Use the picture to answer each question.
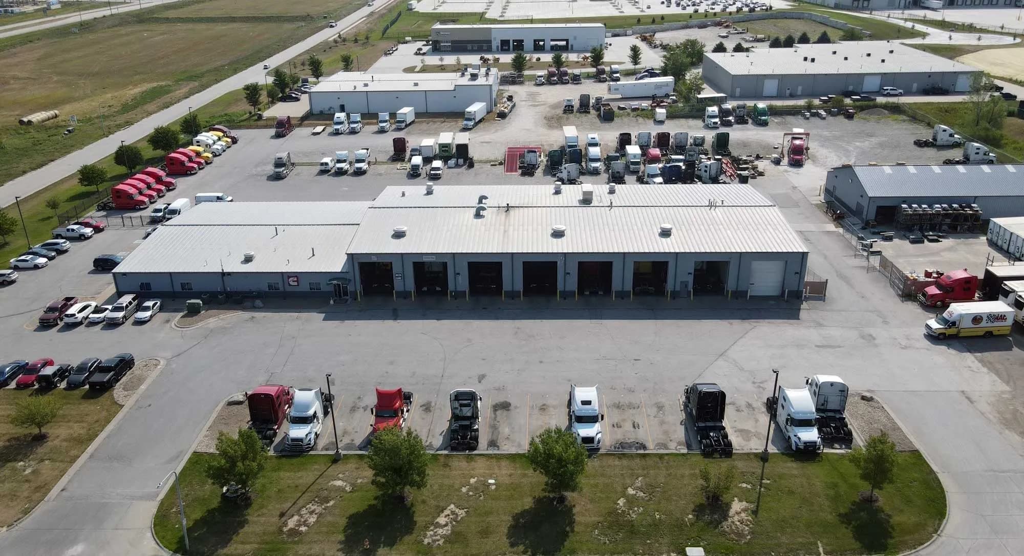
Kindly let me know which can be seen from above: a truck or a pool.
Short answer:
truck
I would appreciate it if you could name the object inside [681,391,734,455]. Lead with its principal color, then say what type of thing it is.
black truck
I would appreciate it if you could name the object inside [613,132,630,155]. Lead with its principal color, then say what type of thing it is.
black vehicle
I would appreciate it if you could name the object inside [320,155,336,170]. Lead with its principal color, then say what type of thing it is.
white vehicle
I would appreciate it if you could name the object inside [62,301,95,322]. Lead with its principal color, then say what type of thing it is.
white car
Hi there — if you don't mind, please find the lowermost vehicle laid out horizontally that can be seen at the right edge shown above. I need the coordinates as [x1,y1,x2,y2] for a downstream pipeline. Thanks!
[922,297,1020,341]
